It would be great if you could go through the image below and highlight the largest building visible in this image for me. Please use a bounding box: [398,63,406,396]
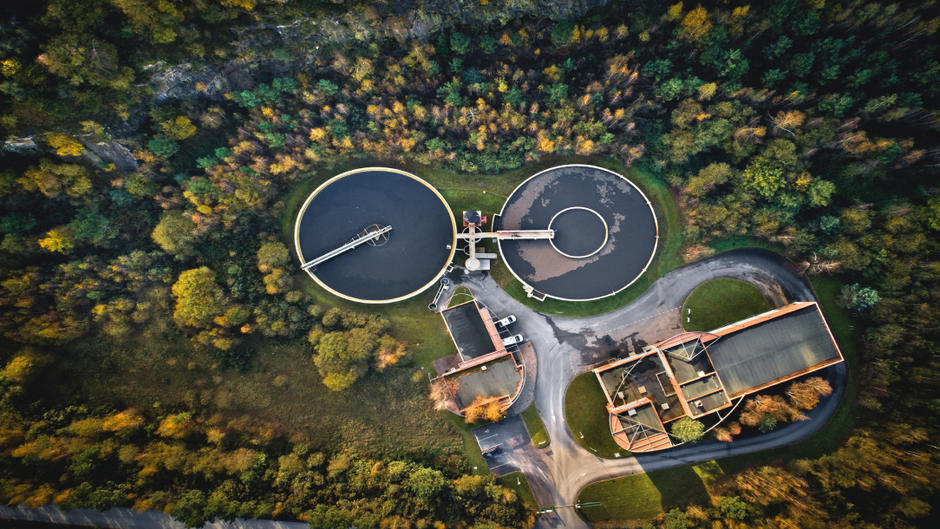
[588,299,844,453]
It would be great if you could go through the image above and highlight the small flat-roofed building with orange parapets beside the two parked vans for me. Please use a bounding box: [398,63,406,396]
[429,298,526,418]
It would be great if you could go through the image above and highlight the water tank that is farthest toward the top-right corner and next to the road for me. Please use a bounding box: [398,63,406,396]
[491,164,660,301]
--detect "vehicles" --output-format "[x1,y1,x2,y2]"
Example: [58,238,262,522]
[494,316,516,328]
[502,336,524,347]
